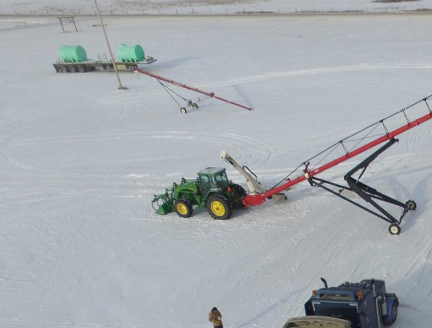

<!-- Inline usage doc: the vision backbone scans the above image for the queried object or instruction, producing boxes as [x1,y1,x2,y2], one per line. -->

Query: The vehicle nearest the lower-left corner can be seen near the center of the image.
[153,170,241,219]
